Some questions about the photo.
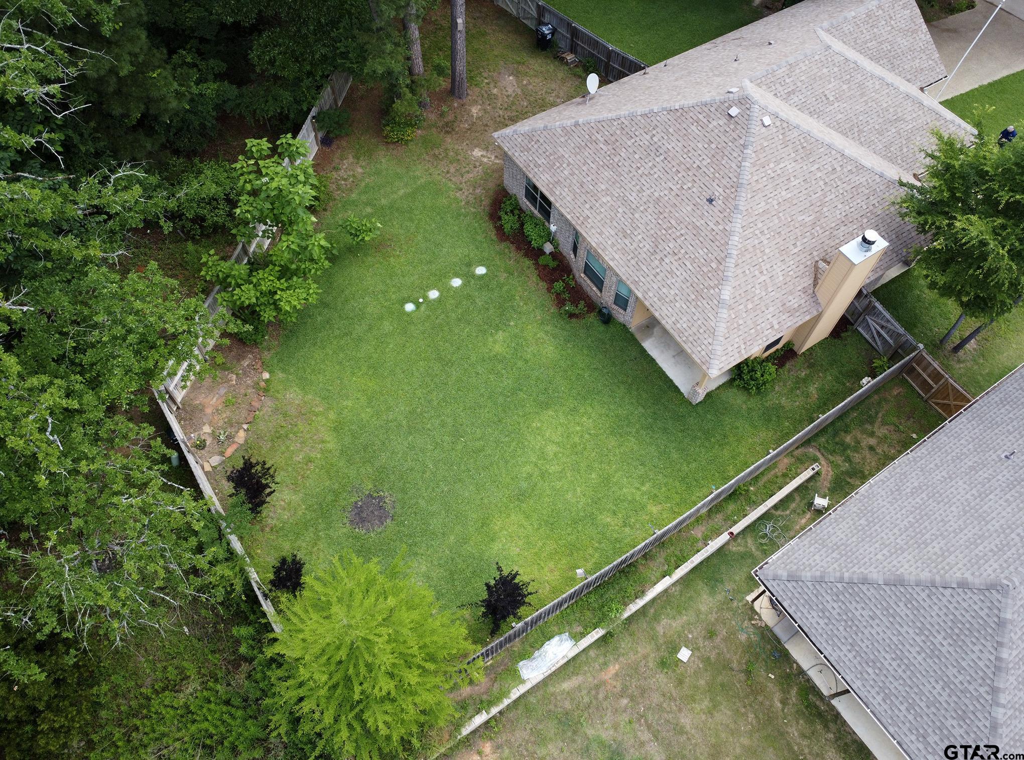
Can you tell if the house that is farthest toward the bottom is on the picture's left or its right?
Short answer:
right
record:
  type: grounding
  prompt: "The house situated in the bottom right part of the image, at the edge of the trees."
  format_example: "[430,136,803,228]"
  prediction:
[749,366,1024,760]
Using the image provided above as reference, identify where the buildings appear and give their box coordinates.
[749,366,1024,760]
[496,0,989,404]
